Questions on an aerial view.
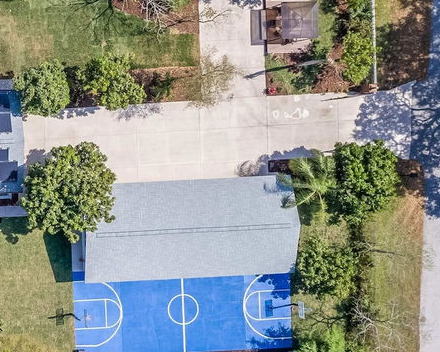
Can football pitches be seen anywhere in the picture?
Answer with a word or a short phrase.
No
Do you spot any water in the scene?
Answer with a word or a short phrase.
No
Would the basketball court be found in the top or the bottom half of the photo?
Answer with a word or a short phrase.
bottom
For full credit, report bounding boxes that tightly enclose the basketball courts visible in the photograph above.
[74,268,293,352]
